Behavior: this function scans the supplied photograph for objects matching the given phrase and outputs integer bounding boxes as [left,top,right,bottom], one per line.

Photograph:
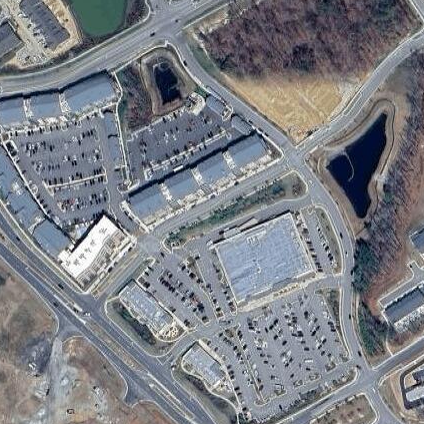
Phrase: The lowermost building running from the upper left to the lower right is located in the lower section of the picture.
[184,342,227,388]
